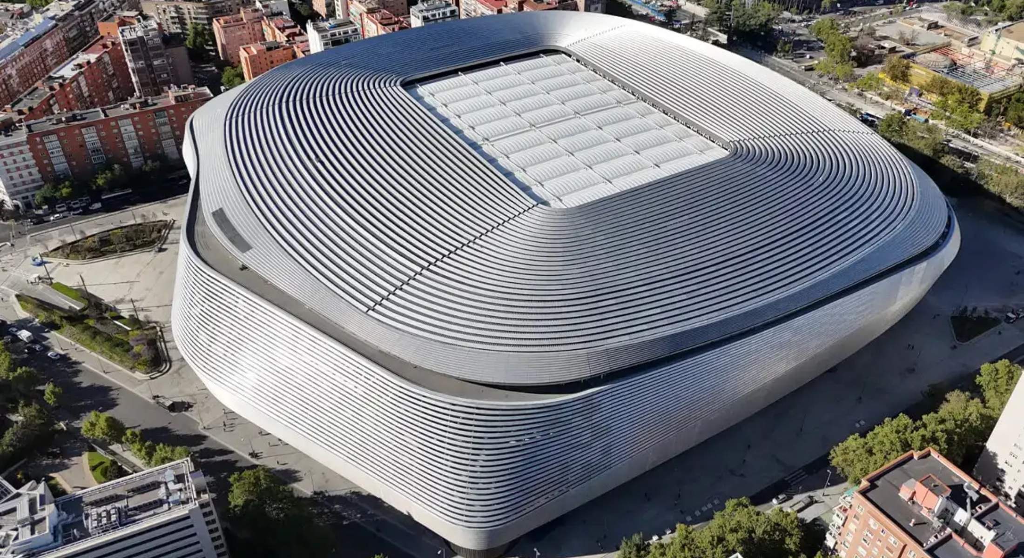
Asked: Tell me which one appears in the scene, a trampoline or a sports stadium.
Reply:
sports stadium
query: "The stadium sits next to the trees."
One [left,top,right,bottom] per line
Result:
[174,11,960,553]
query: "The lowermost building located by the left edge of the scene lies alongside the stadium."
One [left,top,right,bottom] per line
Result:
[0,458,228,558]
